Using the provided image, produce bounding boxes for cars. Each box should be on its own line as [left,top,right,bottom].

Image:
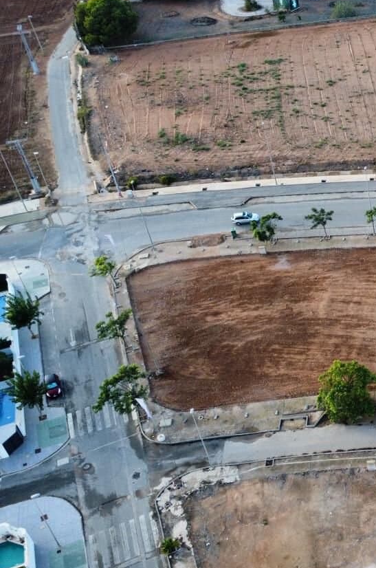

[227,212,261,225]
[37,373,67,403]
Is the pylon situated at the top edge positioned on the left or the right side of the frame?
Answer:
left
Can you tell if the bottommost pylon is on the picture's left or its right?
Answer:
left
